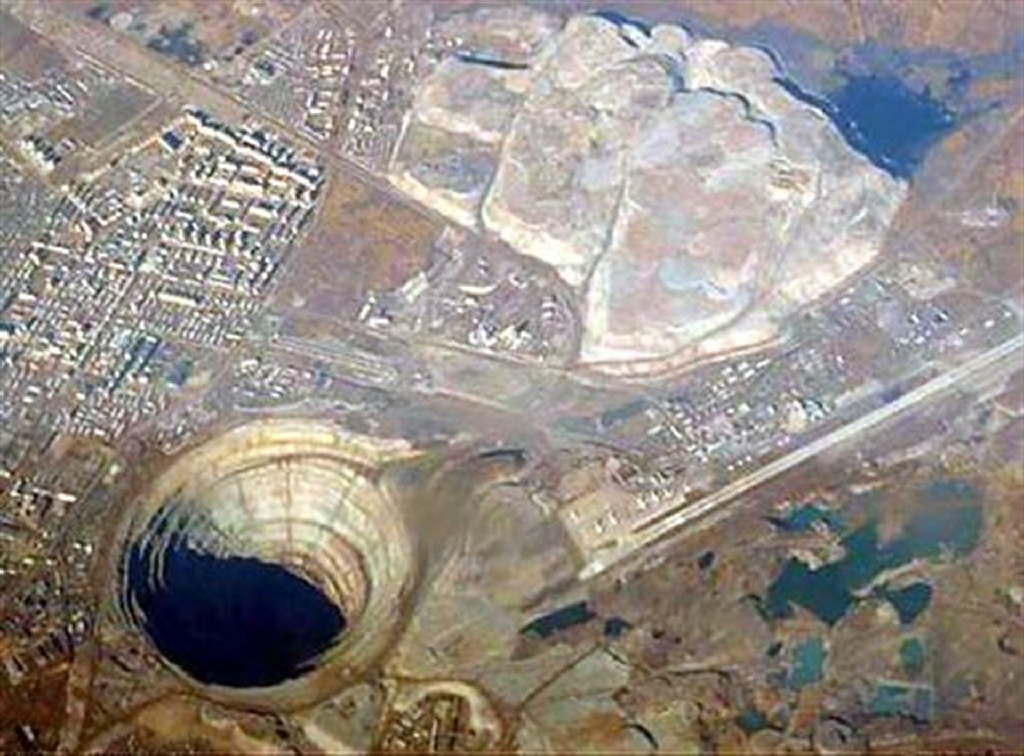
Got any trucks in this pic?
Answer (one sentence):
No, there appears to be no truck in this shot.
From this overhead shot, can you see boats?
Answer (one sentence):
No, there isn't any boat down there.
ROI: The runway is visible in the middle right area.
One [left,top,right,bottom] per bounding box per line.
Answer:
[576,334,1024,583]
